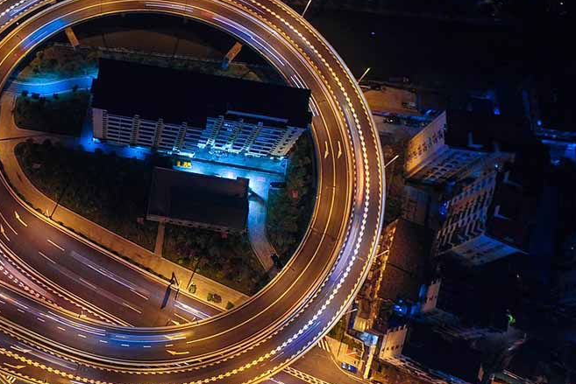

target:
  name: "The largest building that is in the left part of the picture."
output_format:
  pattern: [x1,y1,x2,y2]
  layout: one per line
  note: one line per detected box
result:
[91,55,315,160]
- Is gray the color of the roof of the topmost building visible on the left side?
No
